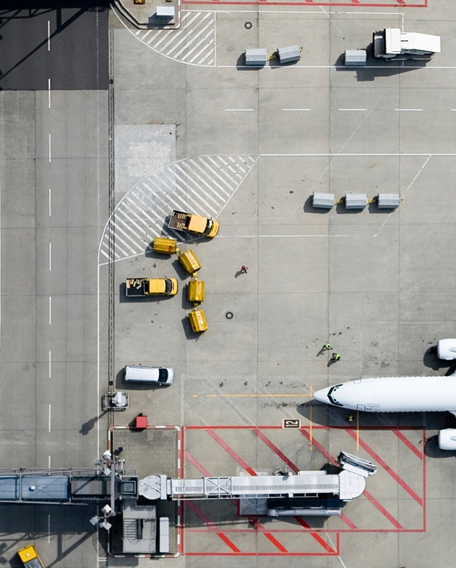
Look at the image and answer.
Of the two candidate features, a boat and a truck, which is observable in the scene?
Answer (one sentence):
Visible in the photo is a truck.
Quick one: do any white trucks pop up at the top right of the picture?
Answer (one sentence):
Yes, I can see a white truck at the top right of the picture.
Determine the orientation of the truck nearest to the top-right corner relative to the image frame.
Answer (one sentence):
In this picture, the truck nearest to the top-right corner is oriented from side to side.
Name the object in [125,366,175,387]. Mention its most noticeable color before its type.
white vehicle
